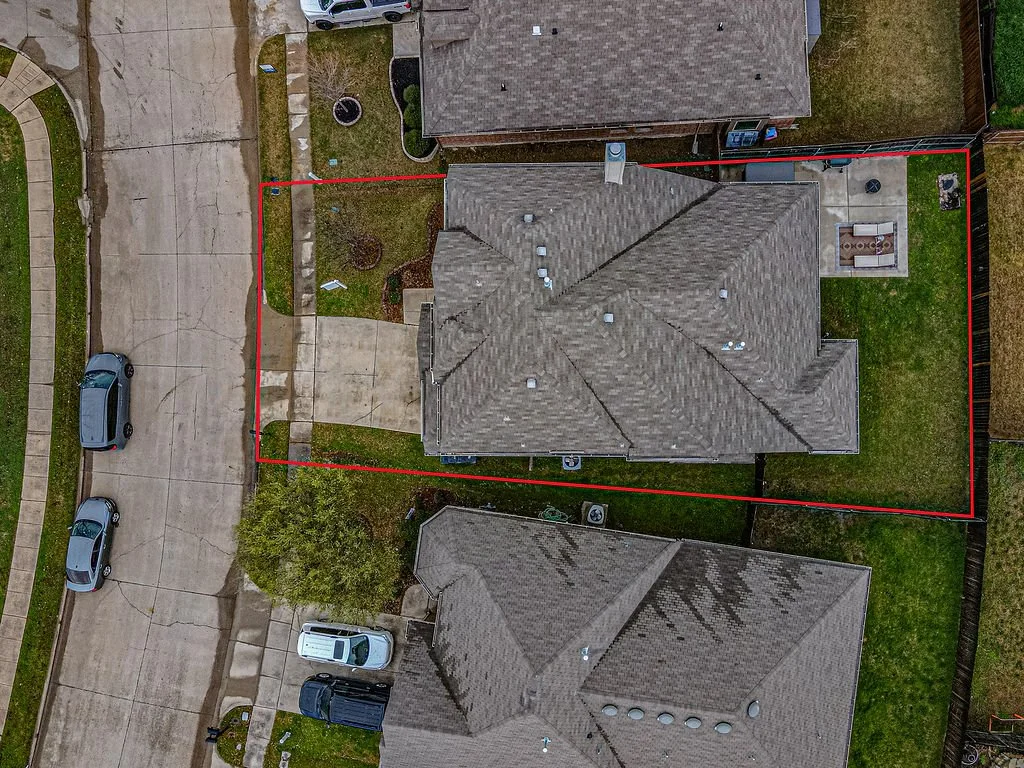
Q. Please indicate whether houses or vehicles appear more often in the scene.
vehicles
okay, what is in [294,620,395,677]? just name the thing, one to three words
car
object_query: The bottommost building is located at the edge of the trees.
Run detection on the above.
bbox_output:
[381,505,873,768]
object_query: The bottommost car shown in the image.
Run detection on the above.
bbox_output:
[296,670,392,737]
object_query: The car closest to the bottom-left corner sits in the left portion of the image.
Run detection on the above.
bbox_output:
[64,493,122,591]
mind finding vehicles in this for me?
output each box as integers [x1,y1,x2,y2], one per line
[296,670,392,737]
[294,620,395,677]
[297,0,419,27]
[81,351,136,450]
[64,493,122,591]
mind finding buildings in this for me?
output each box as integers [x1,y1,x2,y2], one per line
[381,505,873,768]
[417,141,861,464]
[420,0,812,148]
